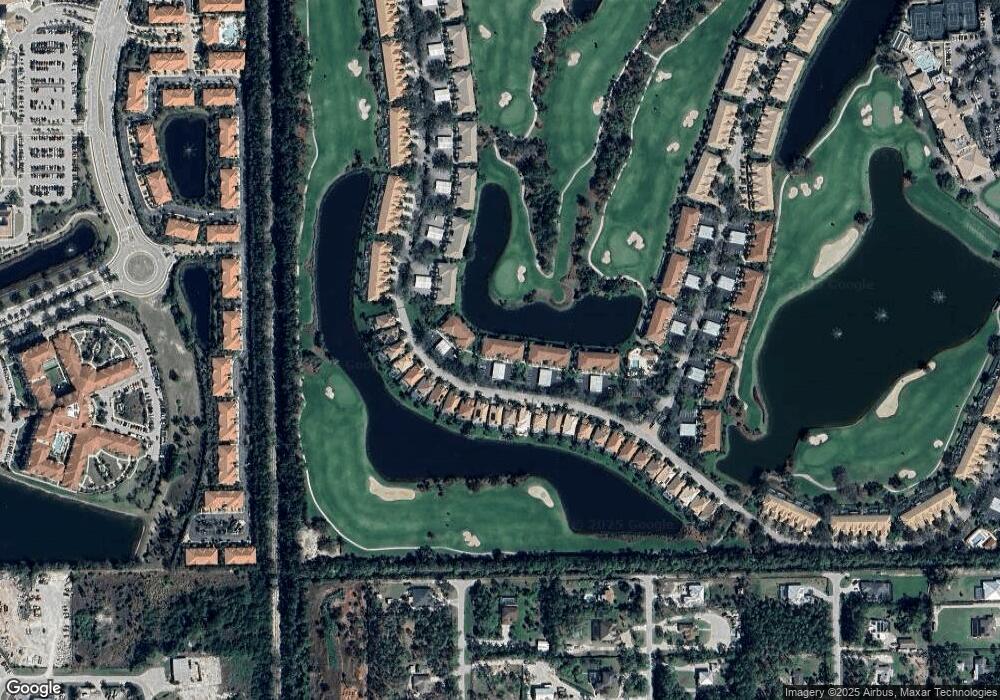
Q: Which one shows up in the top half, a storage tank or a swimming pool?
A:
swimming pool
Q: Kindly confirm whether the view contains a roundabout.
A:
Yes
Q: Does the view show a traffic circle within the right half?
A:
No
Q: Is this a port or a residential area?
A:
residential area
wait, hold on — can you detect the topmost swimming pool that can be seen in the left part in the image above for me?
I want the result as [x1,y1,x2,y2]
[219,16,244,47]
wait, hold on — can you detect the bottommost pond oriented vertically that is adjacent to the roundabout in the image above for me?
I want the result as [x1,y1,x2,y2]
[181,264,209,355]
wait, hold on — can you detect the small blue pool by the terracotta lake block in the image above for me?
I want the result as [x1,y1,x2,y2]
[629,348,658,376]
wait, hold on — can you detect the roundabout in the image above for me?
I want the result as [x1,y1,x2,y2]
[108,225,172,299]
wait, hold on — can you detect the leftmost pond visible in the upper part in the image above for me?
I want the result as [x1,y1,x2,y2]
[0,220,97,293]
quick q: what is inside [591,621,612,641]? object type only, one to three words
house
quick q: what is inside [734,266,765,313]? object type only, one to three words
building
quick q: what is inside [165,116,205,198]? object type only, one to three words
pond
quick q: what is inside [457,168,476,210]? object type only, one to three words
building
